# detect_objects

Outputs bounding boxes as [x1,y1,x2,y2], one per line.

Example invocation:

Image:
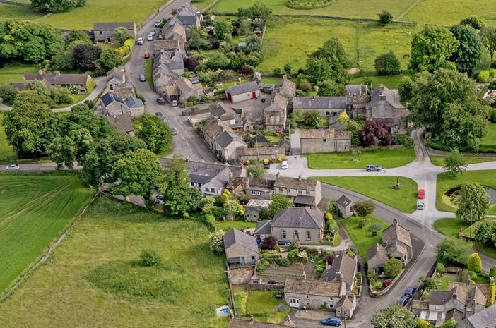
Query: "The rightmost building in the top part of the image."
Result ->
[366,81,412,137]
